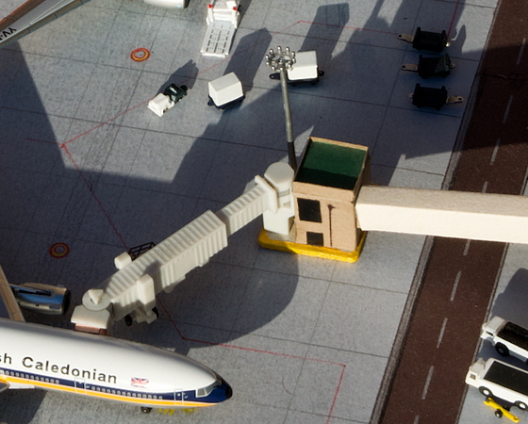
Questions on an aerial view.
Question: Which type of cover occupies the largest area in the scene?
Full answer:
The bulk of the photo consists of paved ground.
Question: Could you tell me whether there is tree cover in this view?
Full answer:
No, no tree cover is visible.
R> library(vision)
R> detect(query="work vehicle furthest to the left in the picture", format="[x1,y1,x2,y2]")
[148,81,189,117]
